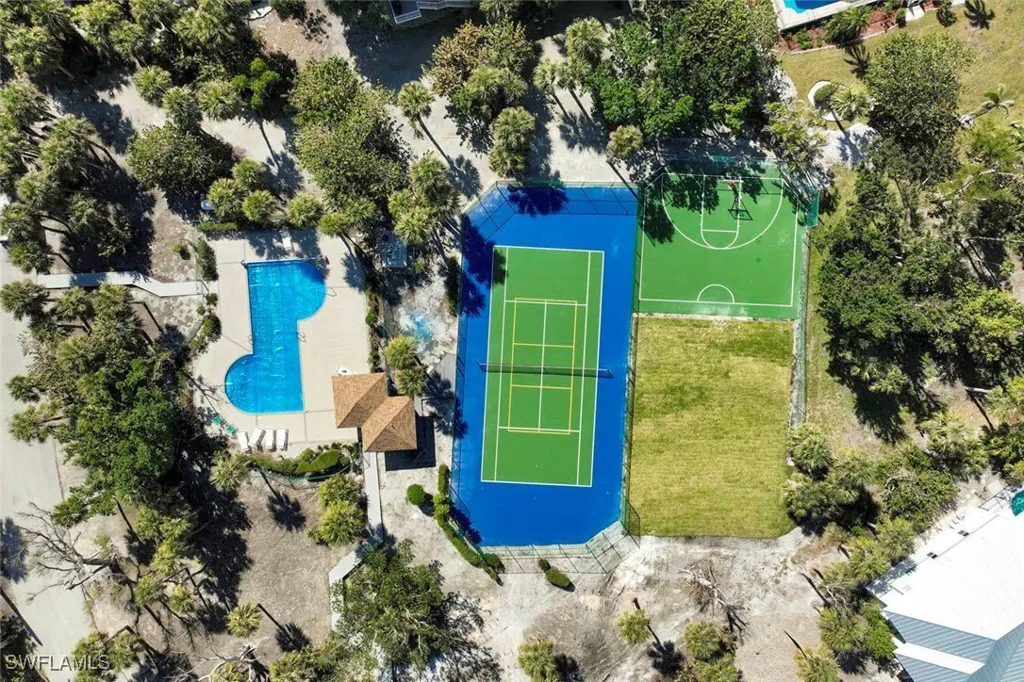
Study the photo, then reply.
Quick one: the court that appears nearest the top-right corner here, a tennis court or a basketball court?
basketball court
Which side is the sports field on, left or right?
right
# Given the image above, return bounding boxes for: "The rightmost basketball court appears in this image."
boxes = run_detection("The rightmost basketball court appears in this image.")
[633,158,804,319]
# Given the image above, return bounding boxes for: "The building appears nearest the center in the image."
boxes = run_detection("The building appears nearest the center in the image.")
[332,373,417,452]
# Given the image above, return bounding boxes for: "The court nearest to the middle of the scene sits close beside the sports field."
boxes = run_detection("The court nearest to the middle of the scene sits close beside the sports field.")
[451,185,638,547]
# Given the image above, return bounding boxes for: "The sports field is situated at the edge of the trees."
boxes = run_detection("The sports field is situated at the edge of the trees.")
[630,316,797,538]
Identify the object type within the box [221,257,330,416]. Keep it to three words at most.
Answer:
swimming pool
